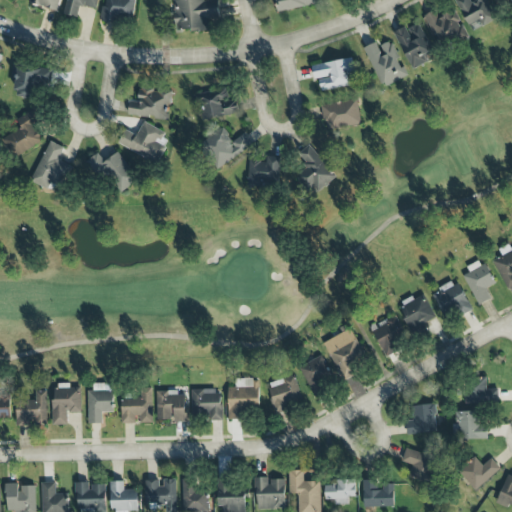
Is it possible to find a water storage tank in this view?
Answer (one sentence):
No, there is no water storage tank in the image.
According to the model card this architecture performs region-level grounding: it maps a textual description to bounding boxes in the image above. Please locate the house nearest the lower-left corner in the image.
[4,476,36,512]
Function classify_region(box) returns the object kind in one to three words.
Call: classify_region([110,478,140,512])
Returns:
house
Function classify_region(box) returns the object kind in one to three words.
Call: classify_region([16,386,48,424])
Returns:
house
